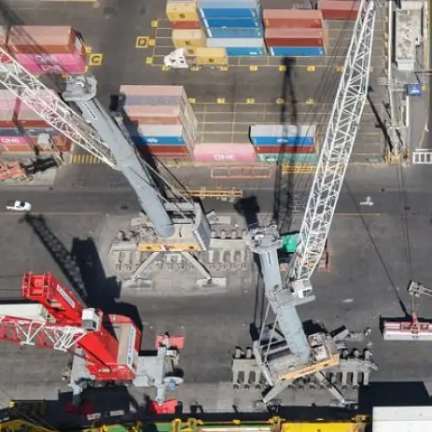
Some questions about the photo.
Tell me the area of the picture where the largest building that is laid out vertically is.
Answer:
top right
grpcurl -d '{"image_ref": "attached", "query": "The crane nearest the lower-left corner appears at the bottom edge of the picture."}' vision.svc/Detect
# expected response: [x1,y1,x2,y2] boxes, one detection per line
[0,272,188,432]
